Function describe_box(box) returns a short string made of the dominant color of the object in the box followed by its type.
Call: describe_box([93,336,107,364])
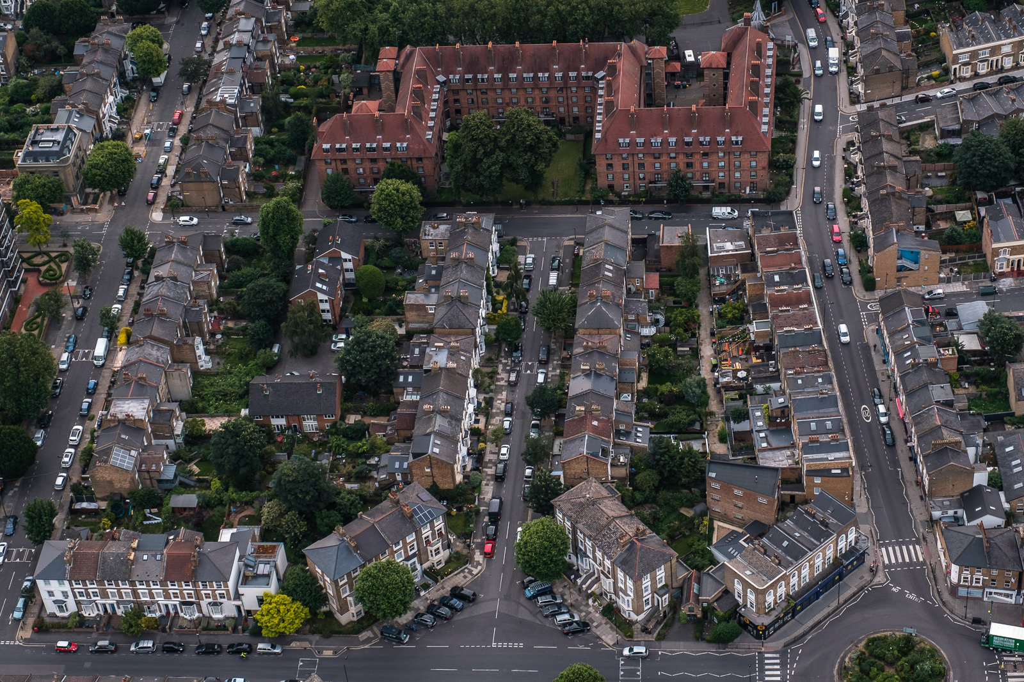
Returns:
white vehicle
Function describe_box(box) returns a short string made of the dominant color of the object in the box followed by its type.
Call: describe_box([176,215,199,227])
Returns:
white vehicle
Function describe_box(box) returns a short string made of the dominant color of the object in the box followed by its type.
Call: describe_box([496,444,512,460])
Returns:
white car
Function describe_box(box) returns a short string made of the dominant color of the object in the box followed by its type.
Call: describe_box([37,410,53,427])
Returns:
black car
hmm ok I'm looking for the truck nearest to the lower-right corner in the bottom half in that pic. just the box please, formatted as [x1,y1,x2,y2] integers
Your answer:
[981,628,1024,660]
